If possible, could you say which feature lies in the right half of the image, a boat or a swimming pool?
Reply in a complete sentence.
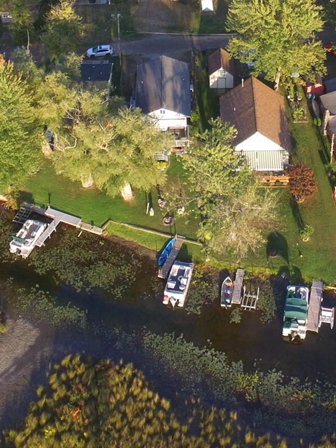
The one visible in the right half of the image is a boat.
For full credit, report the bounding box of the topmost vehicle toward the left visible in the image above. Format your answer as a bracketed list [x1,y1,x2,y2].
[87,42,114,58]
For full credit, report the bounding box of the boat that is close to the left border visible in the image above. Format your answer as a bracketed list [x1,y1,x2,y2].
[9,220,45,257]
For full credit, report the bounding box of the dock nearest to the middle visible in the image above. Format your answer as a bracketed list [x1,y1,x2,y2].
[158,238,185,277]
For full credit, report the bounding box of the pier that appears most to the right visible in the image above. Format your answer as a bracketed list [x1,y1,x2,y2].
[305,281,323,338]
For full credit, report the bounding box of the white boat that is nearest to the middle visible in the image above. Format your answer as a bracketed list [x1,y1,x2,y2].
[163,260,194,305]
